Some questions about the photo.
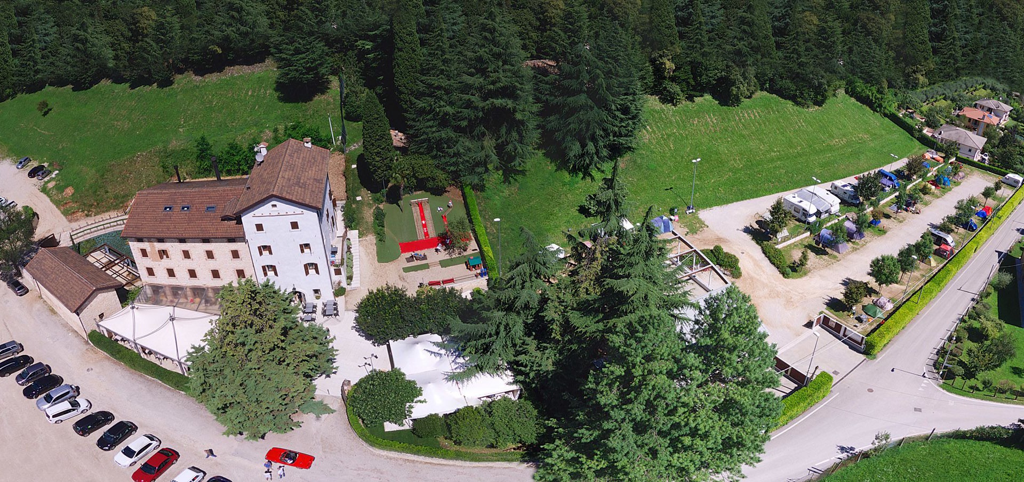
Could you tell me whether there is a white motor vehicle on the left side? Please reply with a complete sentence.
Yes, I can see a white motor vehicle on the left side.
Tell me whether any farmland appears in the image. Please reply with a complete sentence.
No, the scene doesn't show any farmland.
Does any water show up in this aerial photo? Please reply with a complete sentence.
No, the picture contains no water.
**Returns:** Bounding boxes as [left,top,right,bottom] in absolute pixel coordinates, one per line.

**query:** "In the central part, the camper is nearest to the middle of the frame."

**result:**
[543,241,565,265]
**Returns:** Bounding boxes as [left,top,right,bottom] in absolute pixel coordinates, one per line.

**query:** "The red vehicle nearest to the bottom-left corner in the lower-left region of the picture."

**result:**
[130,449,183,482]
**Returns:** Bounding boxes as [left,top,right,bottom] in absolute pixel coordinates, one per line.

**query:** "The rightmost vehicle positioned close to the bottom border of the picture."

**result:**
[267,447,317,475]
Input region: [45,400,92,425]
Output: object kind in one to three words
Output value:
car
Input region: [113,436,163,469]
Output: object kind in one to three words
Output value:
car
